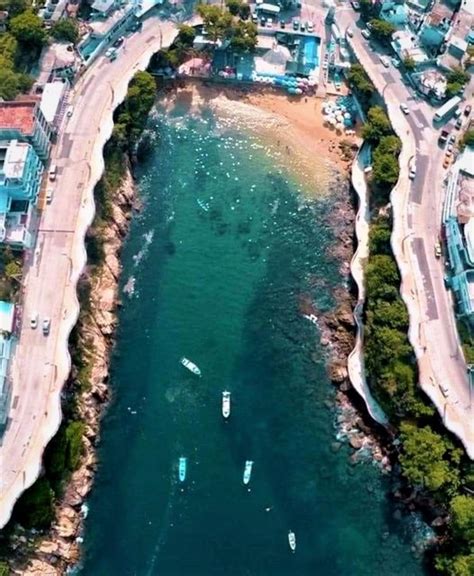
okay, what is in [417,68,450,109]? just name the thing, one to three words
house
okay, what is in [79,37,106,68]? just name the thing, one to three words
building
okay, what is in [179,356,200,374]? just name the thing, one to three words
boat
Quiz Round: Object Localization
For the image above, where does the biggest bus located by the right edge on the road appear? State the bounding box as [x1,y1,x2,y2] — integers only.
[430,96,460,123]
